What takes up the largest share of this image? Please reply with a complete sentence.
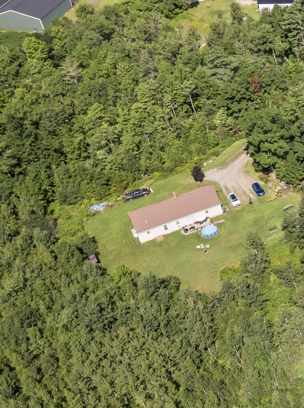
What you mostly see from above here is trees.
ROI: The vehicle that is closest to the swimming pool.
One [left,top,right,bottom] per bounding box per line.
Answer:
[227,192,242,208]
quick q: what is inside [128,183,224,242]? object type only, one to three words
house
